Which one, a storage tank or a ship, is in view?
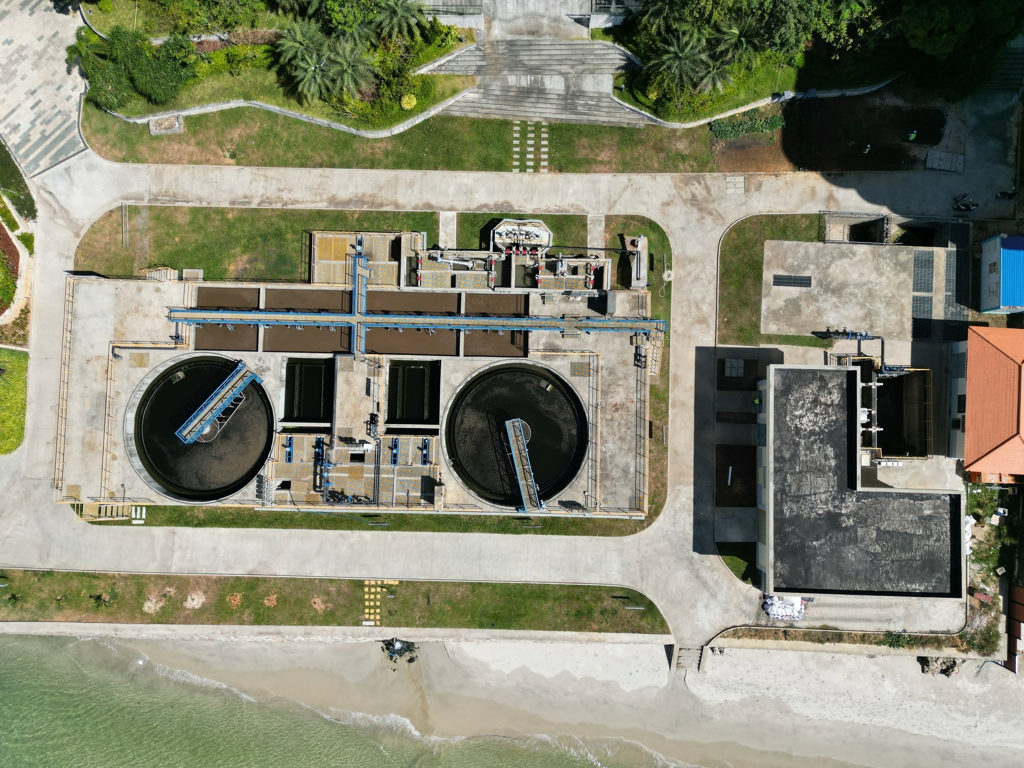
storage tank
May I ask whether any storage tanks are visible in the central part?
Yes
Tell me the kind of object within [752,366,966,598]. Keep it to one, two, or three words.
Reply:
building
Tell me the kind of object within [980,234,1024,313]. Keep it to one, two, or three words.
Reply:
shed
